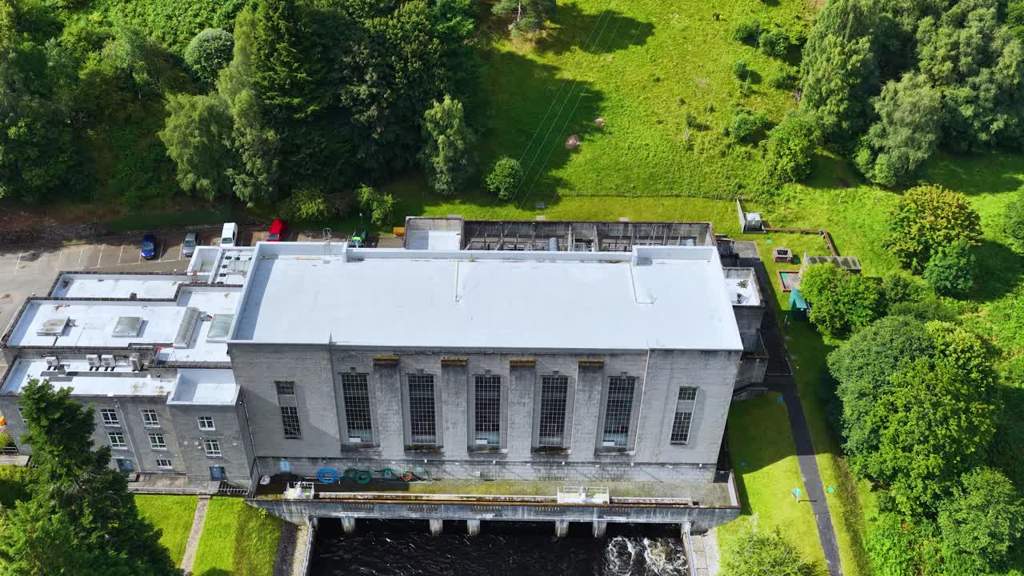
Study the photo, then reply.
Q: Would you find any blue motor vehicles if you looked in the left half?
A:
Yes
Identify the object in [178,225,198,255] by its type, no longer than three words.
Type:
car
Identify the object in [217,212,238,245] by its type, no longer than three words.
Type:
vehicle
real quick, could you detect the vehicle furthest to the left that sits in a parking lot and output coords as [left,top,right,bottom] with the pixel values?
[136,232,156,259]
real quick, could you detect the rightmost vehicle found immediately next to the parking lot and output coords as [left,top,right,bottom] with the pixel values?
[348,215,372,250]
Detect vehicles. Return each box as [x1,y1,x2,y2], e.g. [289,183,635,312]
[266,212,285,241]
[348,215,372,250]
[178,225,198,255]
[217,212,238,245]
[136,232,156,259]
